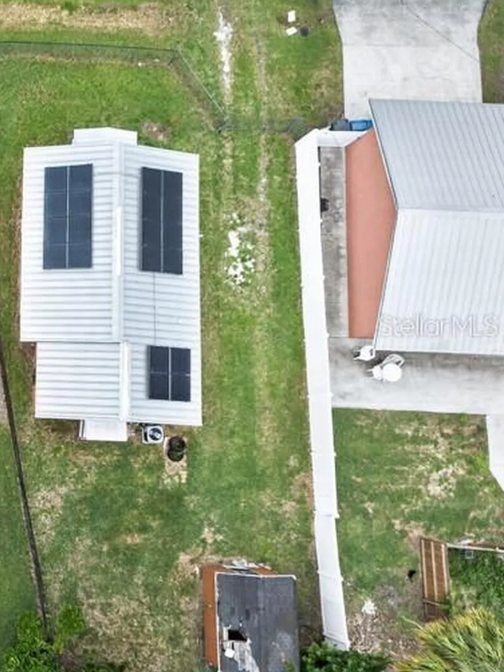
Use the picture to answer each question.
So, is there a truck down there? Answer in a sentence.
No, no truck can be seen from above.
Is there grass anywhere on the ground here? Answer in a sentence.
Yes, grass can be seen from above here.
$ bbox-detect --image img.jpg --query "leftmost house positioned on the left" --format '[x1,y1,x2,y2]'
[17,125,203,442]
